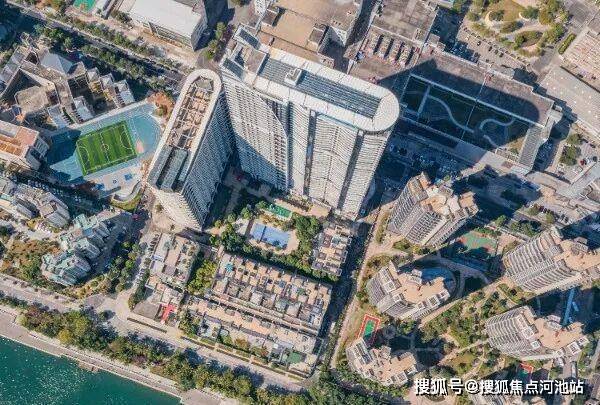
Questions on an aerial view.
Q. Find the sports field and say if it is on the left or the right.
left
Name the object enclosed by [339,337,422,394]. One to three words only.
building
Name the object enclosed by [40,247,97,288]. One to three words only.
house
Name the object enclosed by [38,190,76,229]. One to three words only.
house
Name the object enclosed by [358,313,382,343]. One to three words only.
sports court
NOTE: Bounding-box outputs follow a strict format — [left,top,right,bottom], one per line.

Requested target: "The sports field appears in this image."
[47,104,164,186]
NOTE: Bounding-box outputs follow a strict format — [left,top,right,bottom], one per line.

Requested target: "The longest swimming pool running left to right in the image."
[236,214,300,251]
